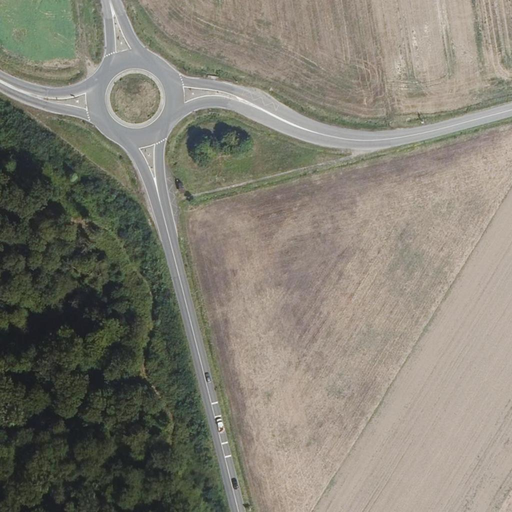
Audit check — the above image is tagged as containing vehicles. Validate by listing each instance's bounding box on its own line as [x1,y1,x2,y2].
[205,372,211,382]
[232,478,238,490]
[216,419,224,432]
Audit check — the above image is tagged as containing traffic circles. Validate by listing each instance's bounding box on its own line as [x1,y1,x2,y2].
[84,42,186,149]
